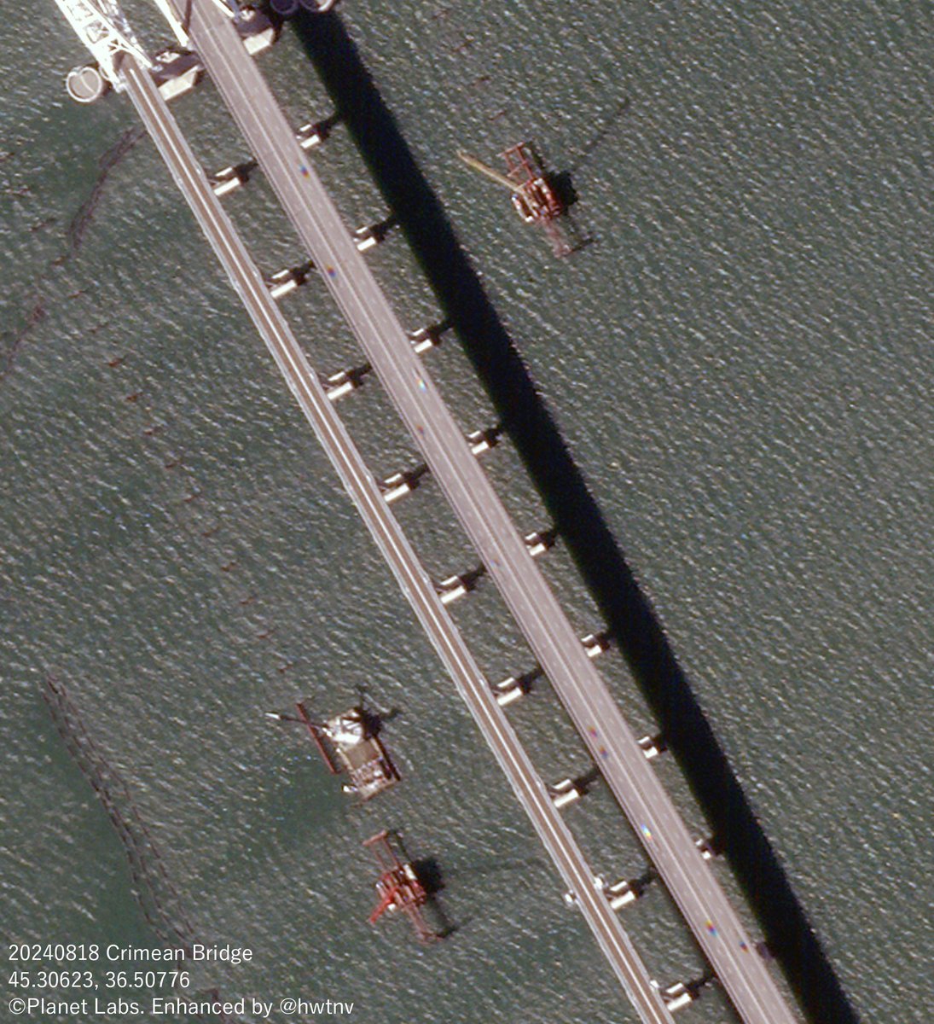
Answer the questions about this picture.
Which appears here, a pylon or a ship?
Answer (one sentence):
Visible in the photo is a ship.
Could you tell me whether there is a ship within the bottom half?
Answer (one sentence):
Yes, a ship appears within the bottom half.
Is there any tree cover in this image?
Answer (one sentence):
No, there is no tree cover in the image.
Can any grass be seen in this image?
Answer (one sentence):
No, there's no grass in this view.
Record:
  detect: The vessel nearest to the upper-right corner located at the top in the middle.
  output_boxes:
[458,144,572,259]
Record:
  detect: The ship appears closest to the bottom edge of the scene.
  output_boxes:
[367,832,437,943]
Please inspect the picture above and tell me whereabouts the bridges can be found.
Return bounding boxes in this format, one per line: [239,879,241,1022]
[151,0,797,1024]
